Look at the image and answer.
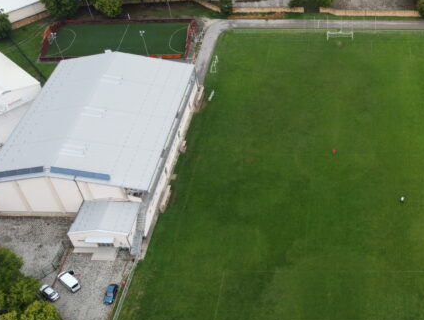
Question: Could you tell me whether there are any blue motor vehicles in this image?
Yes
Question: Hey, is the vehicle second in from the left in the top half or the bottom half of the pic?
bottom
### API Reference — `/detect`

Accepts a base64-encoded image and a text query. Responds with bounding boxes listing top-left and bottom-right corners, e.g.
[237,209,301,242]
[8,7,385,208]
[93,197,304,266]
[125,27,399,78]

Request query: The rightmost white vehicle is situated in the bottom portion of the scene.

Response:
[56,270,80,292]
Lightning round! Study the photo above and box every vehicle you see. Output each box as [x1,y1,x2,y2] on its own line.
[56,270,80,292]
[101,283,119,305]
[38,284,59,303]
